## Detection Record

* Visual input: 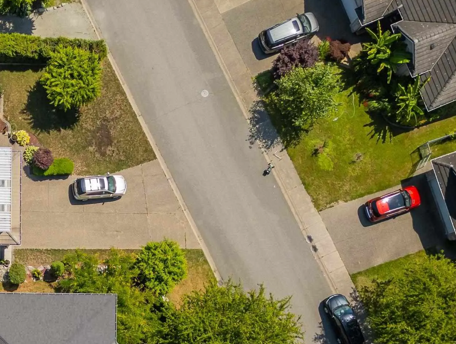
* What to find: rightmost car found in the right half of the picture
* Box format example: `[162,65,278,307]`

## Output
[364,187,421,221]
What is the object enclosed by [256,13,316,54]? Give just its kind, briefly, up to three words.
car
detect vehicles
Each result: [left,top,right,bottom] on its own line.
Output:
[256,13,316,54]
[323,290,367,344]
[364,187,421,221]
[72,172,126,201]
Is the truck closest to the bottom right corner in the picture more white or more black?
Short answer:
black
